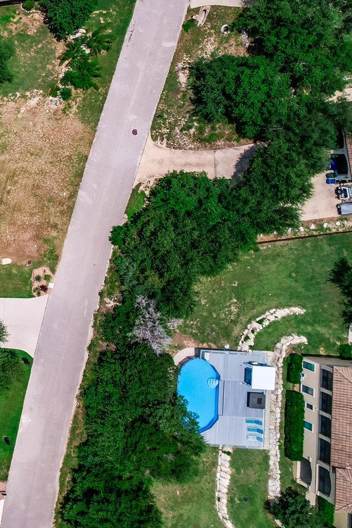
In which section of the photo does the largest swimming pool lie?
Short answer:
bottom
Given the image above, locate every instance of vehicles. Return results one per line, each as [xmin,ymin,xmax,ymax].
[339,201,352,219]
[338,184,352,202]
[336,158,344,173]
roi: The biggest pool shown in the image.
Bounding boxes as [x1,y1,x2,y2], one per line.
[172,355,220,434]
